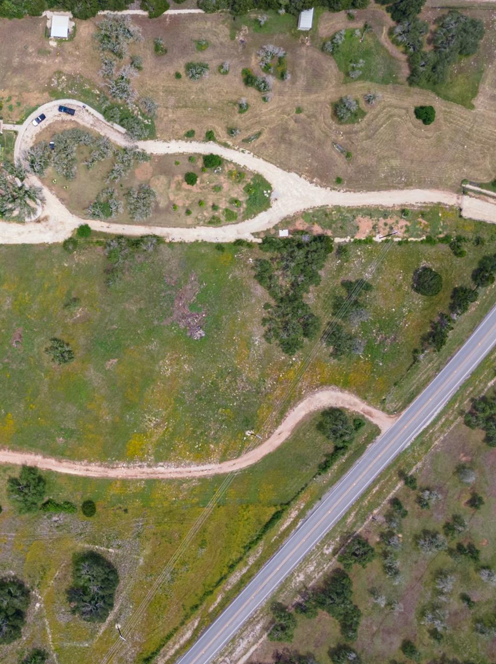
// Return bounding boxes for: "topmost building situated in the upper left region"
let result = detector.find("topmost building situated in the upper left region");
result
[49,15,69,42]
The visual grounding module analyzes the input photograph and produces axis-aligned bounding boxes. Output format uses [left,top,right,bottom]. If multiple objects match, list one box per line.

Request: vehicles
[58,105,76,115]
[31,111,47,127]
